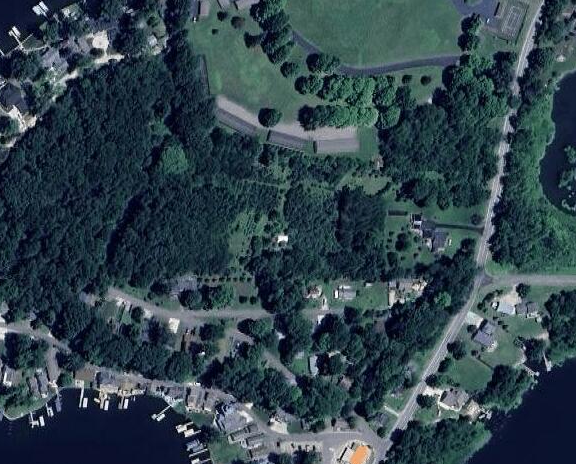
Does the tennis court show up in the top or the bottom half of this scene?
top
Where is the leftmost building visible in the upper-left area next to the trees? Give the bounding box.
[2,84,27,113]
